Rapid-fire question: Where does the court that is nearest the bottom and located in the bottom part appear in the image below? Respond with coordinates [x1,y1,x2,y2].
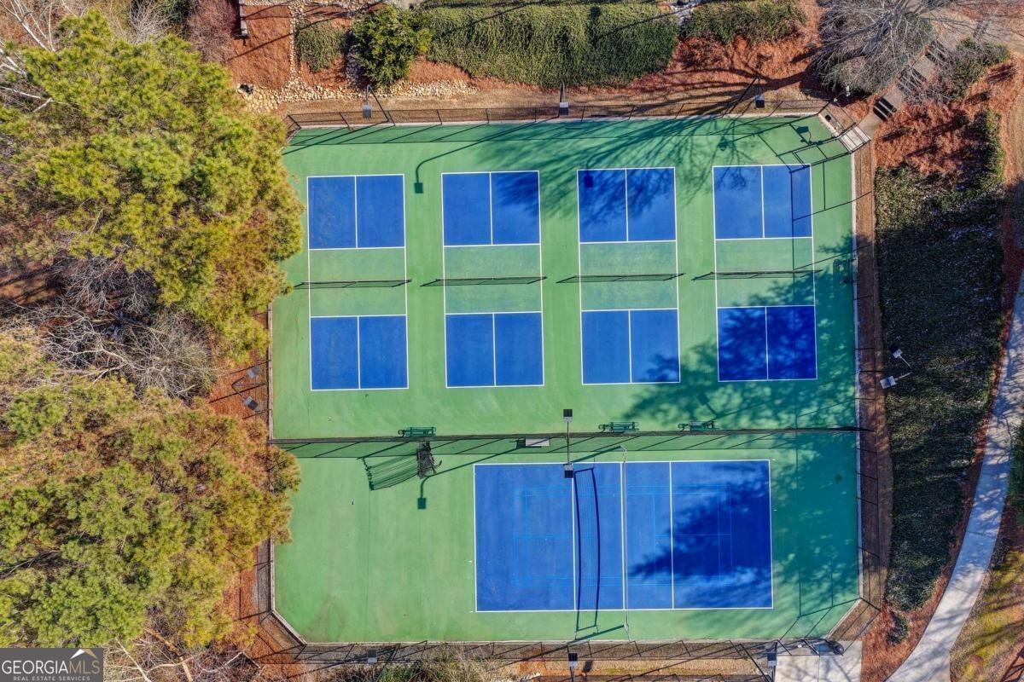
[474,460,773,613]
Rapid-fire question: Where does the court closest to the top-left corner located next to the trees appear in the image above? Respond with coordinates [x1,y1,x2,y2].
[307,174,408,391]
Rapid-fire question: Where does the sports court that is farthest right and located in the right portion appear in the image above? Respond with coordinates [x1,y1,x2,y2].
[713,163,817,382]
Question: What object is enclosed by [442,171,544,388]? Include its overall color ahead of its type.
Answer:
blue sports court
